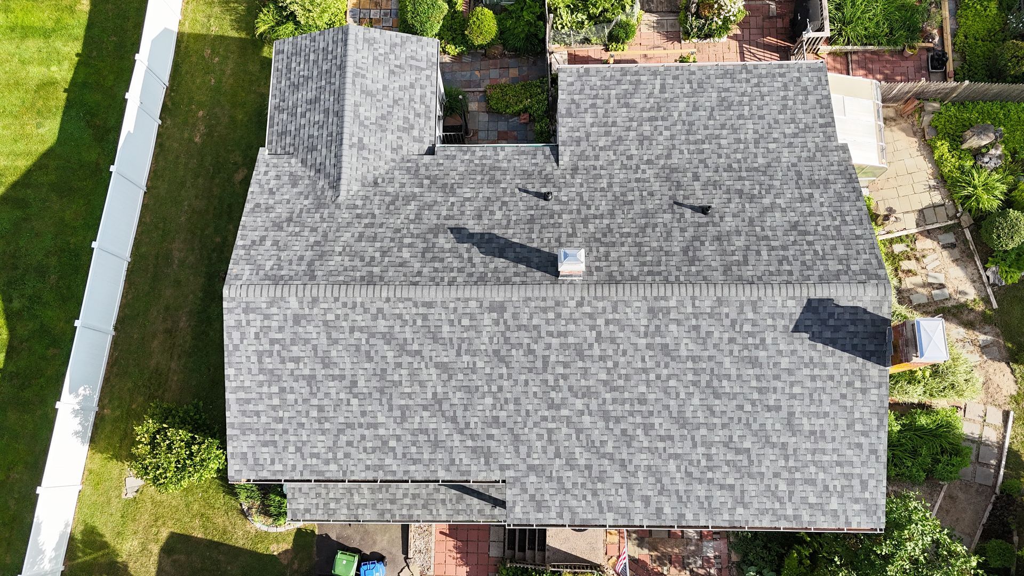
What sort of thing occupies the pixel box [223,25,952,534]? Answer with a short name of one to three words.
house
